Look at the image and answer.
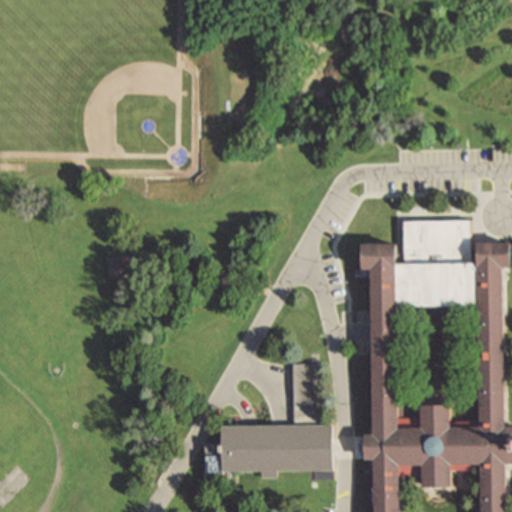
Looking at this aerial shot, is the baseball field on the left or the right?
left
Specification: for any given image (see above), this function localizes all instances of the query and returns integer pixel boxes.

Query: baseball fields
[0,0,200,178]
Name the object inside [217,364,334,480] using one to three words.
building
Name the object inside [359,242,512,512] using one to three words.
building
